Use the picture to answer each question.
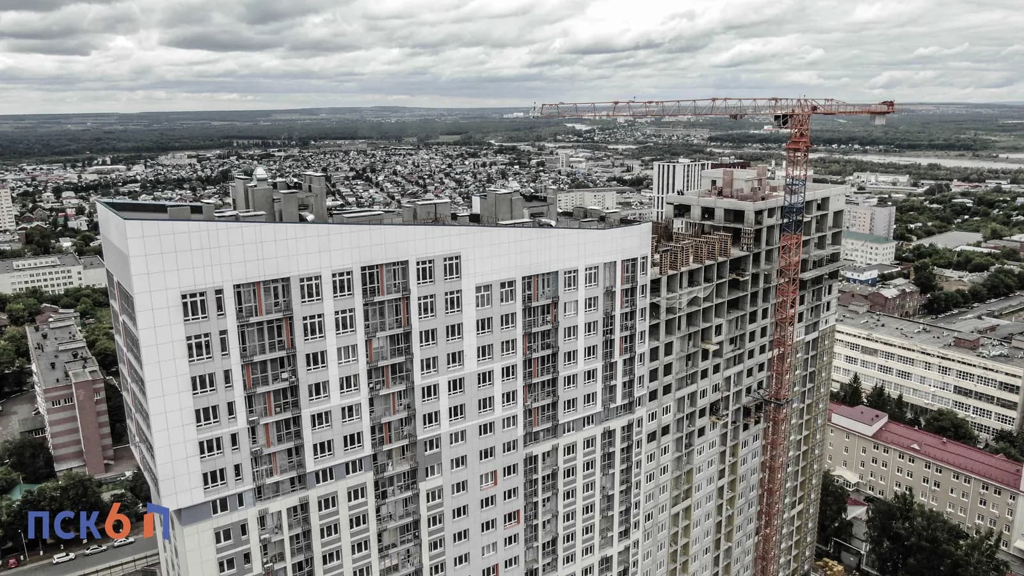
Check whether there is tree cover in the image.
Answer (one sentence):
Yes, there's tree cover in this view.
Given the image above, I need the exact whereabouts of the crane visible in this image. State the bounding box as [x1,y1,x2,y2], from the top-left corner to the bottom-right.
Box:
[534,85,901,576]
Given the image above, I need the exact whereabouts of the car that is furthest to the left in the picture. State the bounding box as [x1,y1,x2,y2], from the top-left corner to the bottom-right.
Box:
[3,554,22,569]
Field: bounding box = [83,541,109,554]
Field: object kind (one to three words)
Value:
vehicle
